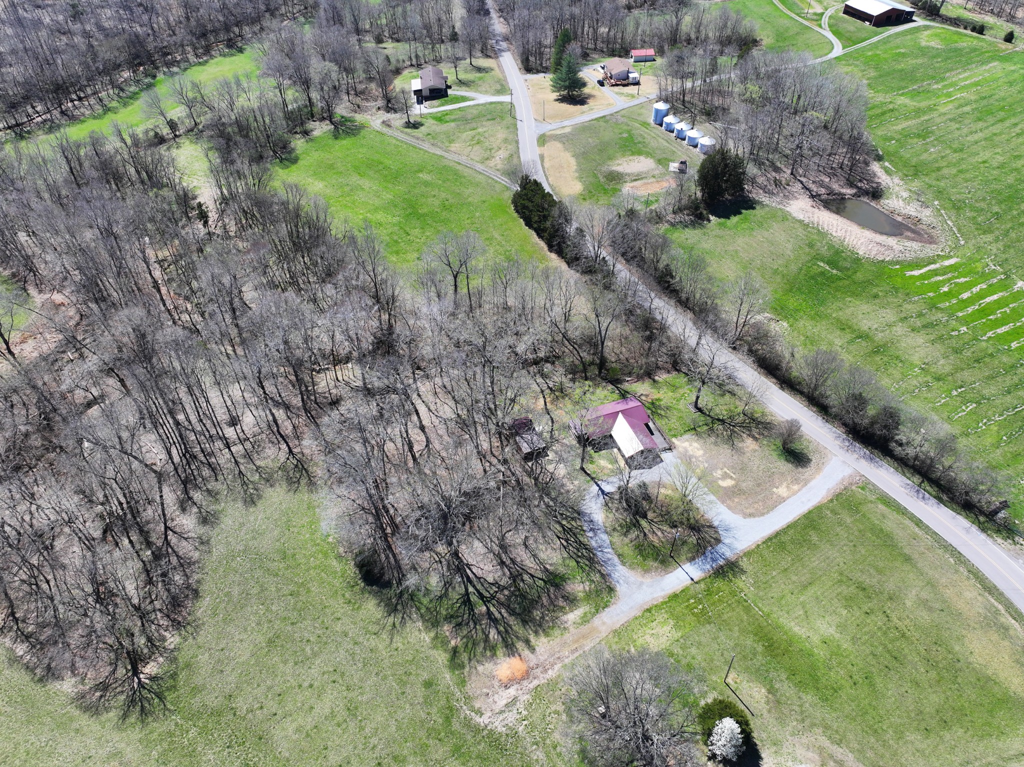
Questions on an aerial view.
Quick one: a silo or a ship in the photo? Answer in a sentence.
There is a silo in the scene.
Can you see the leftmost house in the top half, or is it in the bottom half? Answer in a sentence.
The leftmost house is in the top half of the image.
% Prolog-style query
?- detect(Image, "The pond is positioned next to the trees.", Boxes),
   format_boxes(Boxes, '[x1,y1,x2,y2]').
[817,198,907,239]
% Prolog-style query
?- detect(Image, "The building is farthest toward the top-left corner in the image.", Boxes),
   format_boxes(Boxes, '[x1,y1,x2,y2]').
[411,66,448,96]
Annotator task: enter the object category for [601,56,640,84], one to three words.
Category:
house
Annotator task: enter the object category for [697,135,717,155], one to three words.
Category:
silo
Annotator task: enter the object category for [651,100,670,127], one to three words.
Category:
silo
